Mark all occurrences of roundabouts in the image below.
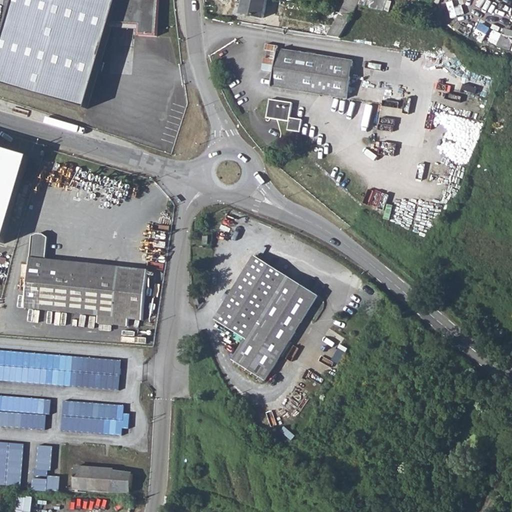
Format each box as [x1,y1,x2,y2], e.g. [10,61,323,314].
[212,156,246,190]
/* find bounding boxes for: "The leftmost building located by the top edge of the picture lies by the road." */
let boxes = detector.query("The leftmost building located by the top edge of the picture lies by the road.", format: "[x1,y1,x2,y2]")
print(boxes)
[0,0,119,110]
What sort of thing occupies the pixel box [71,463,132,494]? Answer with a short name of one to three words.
barn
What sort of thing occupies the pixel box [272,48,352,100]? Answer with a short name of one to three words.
building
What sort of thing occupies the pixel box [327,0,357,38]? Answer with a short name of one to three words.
shed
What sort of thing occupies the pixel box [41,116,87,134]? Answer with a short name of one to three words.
vehicle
